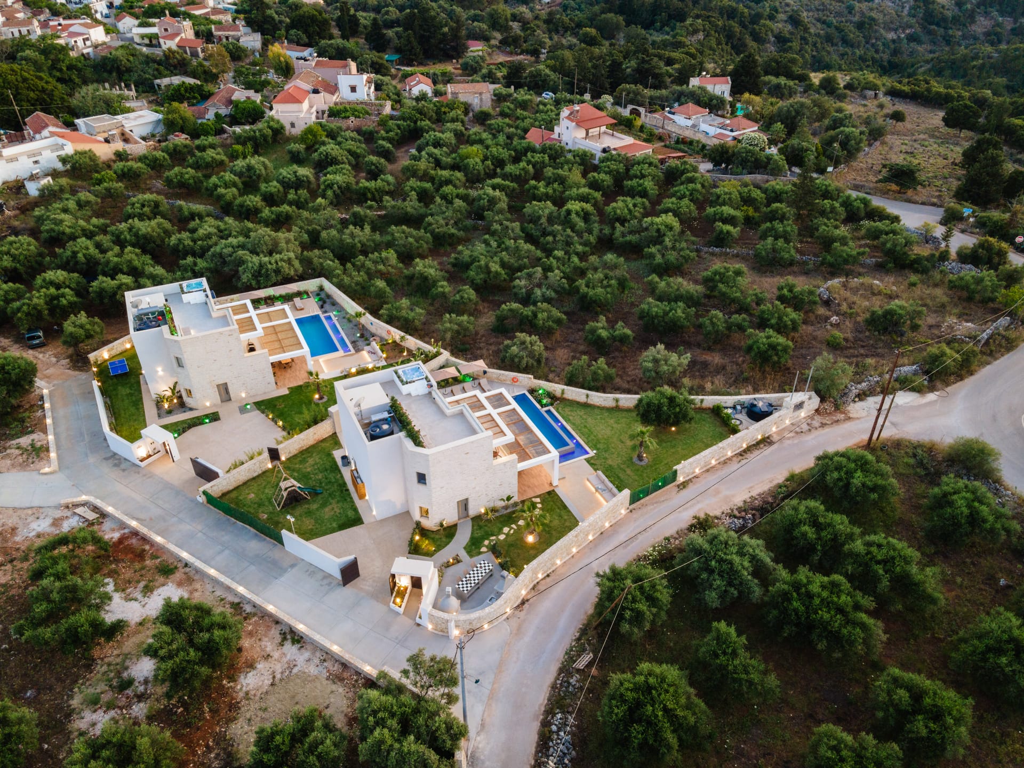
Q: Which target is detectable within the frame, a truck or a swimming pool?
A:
swimming pool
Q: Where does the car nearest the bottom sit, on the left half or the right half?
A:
left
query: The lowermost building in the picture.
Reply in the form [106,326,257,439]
[385,555,441,637]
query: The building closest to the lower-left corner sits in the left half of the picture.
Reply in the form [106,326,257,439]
[131,423,189,468]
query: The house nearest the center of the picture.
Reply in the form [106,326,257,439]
[335,361,558,527]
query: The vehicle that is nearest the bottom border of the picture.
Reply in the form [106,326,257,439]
[22,322,45,345]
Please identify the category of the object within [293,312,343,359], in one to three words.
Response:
swimming pool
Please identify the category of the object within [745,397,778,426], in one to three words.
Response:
water tank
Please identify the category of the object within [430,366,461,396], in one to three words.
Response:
umbrella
